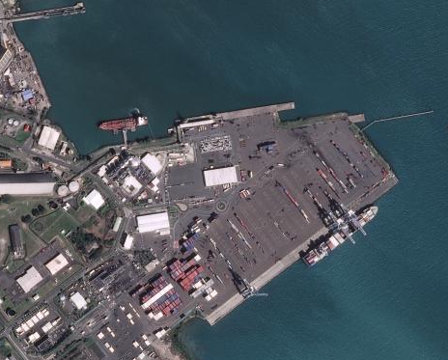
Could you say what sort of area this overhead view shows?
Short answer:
port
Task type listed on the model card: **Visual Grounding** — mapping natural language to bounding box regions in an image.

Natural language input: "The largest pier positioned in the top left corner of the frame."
[10,2,87,22]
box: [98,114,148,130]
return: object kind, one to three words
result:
ship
